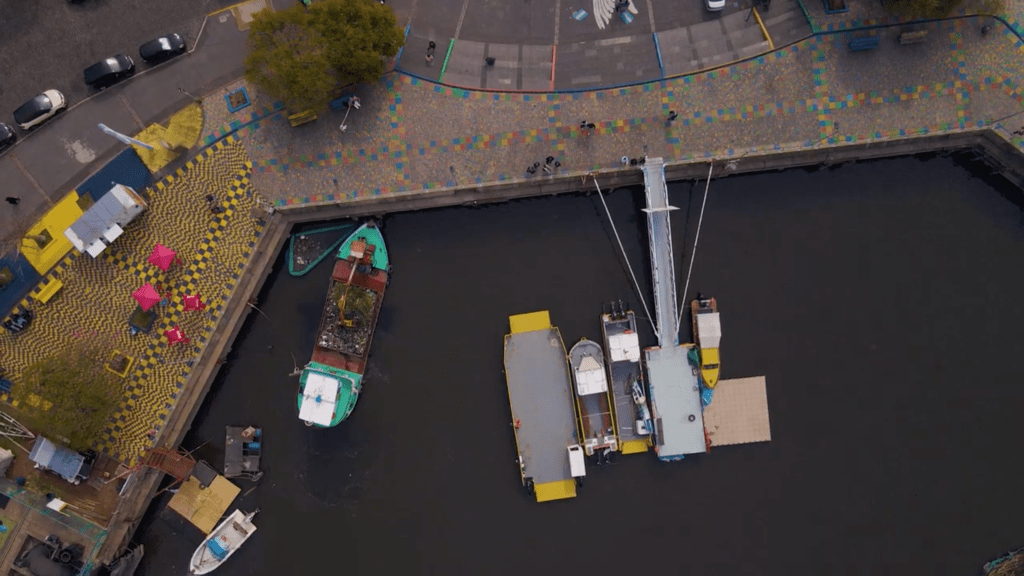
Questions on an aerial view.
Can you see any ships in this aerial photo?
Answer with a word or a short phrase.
Yes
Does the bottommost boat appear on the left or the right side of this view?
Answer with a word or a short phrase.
left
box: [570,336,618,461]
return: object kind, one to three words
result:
boat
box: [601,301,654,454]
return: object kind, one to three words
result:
boat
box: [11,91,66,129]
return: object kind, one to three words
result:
car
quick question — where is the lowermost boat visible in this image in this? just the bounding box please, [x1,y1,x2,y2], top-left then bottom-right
[190,511,257,576]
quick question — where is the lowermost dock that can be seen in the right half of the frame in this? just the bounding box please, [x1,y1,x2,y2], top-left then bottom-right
[644,343,712,461]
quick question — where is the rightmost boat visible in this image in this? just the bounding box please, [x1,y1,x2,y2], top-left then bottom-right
[692,292,722,389]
